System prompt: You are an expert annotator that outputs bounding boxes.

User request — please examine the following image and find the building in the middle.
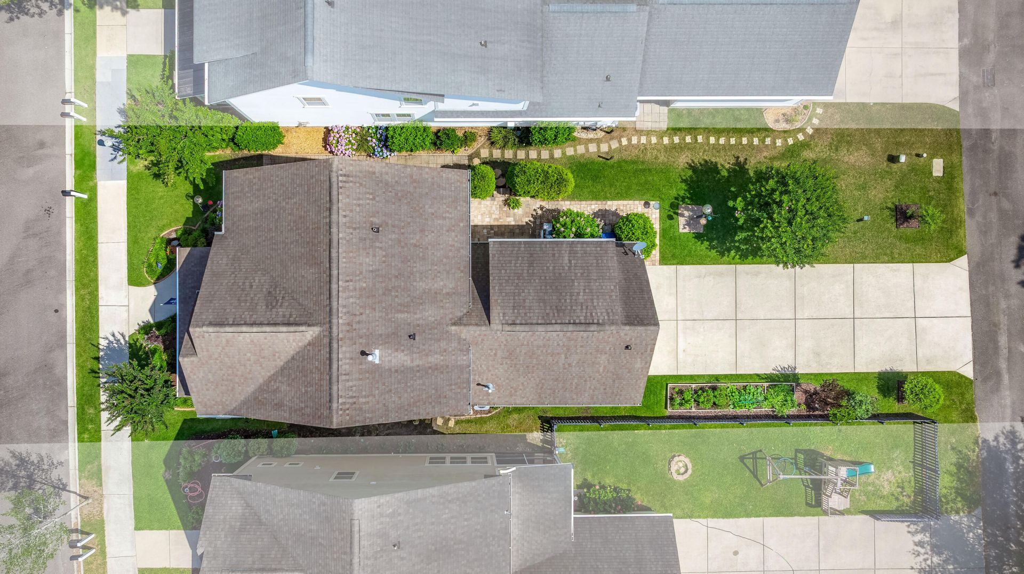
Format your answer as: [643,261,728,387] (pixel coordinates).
[173,156,659,428]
